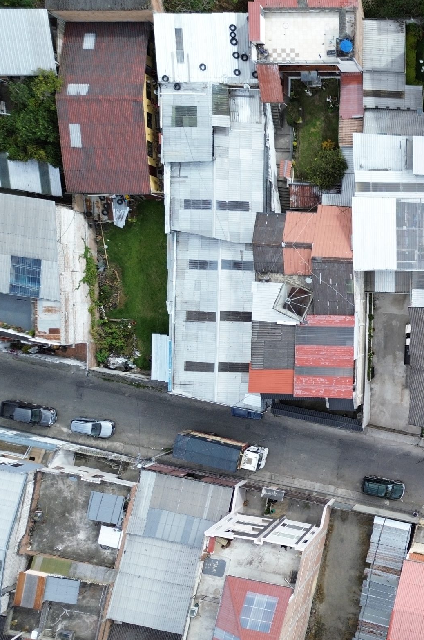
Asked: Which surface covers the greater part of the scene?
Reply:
buildings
